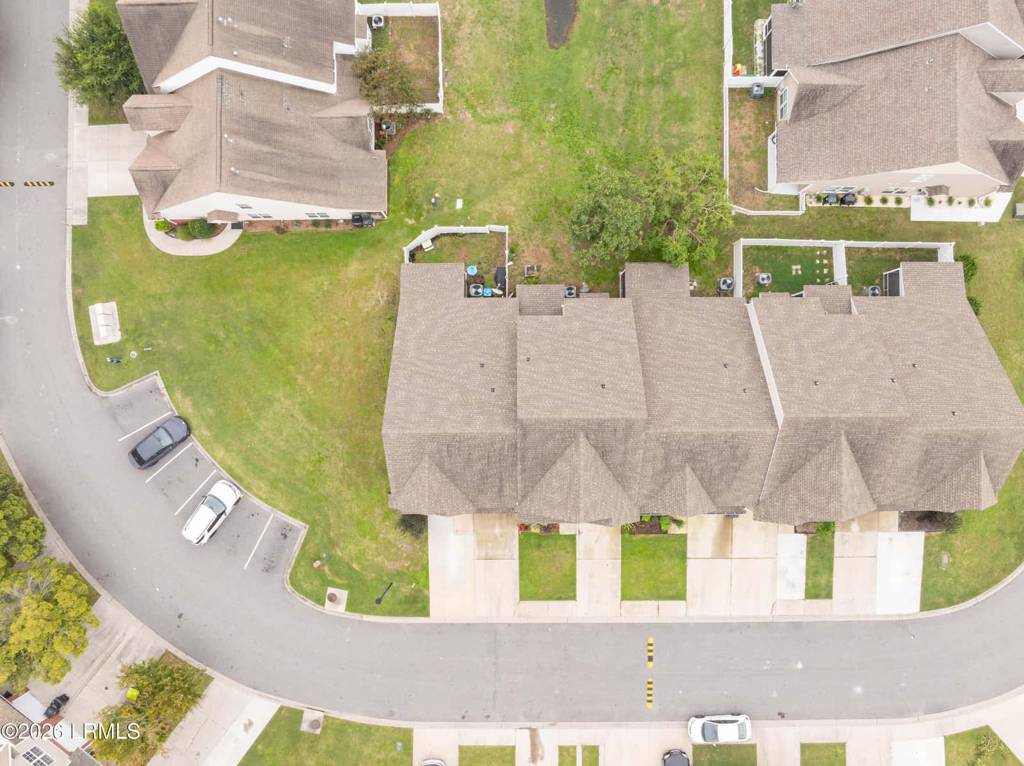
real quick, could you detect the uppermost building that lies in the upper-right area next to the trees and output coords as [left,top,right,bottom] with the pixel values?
[761,0,1024,204]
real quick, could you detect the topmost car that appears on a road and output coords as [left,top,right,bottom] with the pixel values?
[127,419,196,472]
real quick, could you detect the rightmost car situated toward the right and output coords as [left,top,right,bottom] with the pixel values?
[687,713,753,749]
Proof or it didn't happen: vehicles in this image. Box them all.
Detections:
[127,419,196,472]
[42,693,70,720]
[662,749,690,766]
[687,713,753,749]
[182,479,246,547]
